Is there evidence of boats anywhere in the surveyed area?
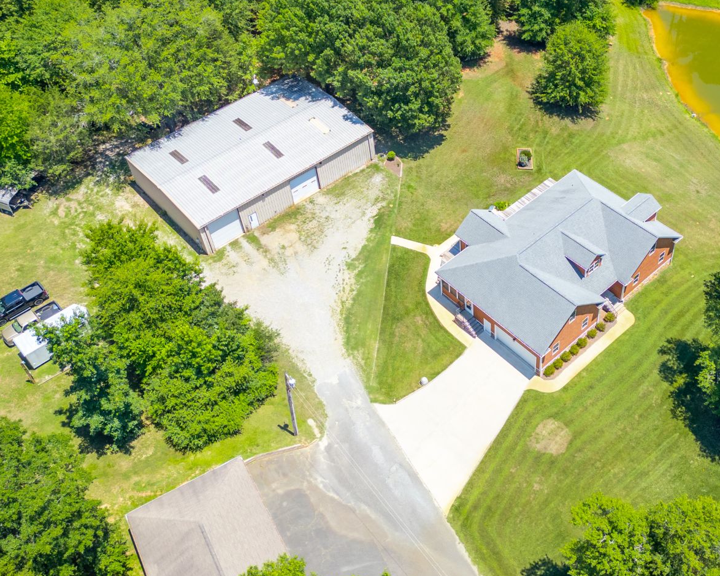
No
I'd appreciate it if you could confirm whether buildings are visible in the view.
Yes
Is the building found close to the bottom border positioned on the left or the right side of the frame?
left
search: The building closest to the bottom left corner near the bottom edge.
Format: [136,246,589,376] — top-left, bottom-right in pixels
[126,456,296,576]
